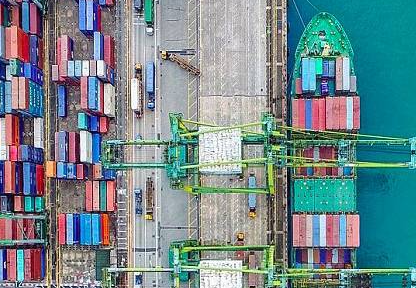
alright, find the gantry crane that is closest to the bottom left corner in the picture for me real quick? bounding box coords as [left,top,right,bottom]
[0,214,51,247]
